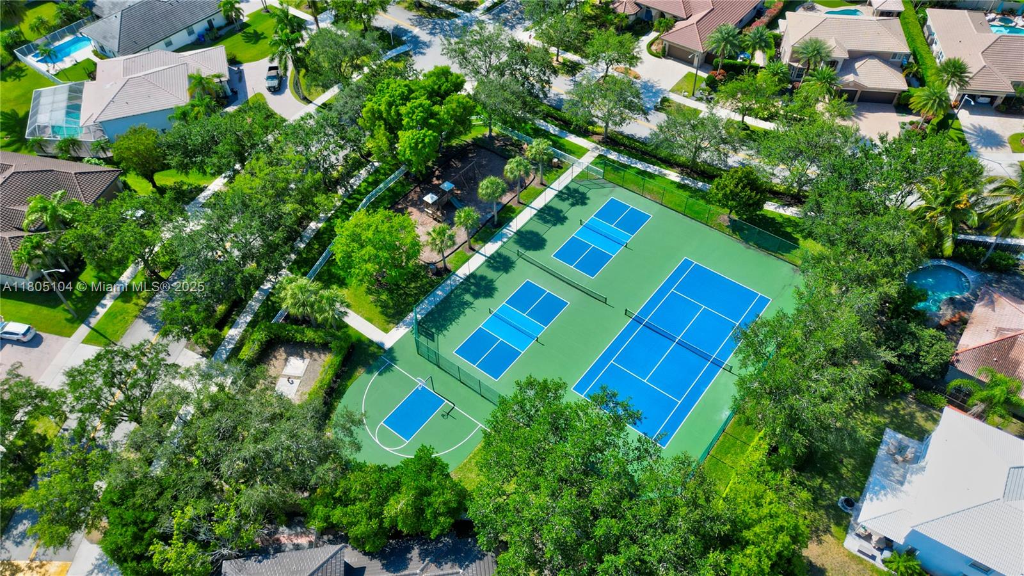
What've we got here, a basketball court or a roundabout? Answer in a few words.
basketball court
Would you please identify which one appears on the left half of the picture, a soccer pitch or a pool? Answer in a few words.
pool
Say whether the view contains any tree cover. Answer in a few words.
Yes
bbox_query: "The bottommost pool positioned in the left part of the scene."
[52,102,82,138]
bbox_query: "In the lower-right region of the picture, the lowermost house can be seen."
[849,404,1024,576]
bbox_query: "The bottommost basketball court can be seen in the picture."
[358,359,490,460]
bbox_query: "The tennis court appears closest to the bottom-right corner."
[572,257,770,448]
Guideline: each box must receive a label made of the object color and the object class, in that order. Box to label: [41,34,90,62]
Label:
blue swimming pool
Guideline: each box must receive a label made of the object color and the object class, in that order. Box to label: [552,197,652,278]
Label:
blue sports court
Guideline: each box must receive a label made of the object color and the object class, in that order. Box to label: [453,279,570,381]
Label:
blue sports court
